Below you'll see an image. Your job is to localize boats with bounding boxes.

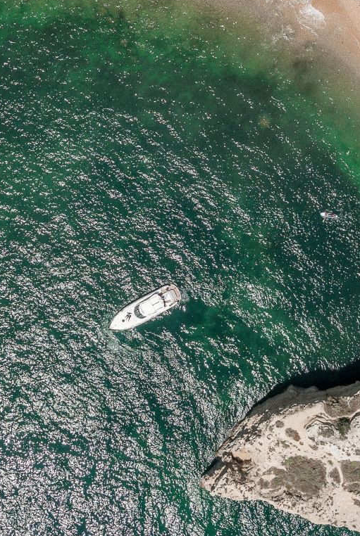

[319,211,338,222]
[109,284,182,329]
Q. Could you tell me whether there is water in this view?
Yes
